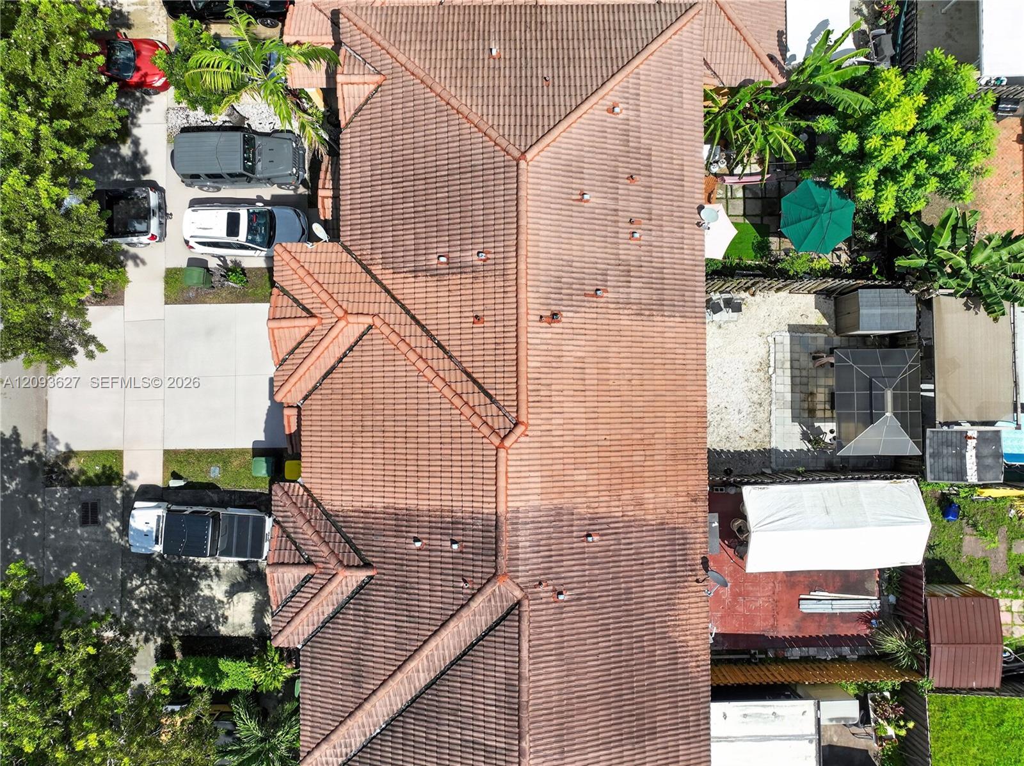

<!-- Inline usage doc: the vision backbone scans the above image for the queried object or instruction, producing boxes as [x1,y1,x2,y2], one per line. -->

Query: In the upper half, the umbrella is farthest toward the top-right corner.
[778,181,853,255]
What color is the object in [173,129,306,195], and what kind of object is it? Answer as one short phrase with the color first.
gray car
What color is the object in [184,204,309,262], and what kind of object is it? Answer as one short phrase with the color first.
white car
